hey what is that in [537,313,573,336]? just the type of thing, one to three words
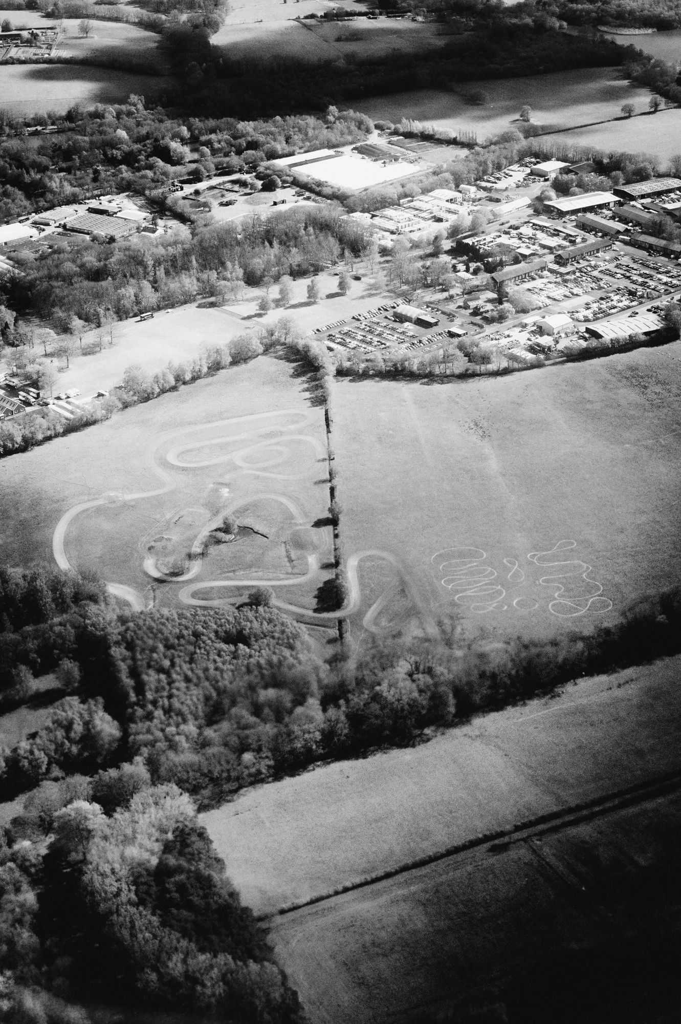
shed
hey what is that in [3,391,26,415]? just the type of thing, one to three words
barn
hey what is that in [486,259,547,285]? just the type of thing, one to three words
building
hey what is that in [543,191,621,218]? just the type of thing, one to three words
building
